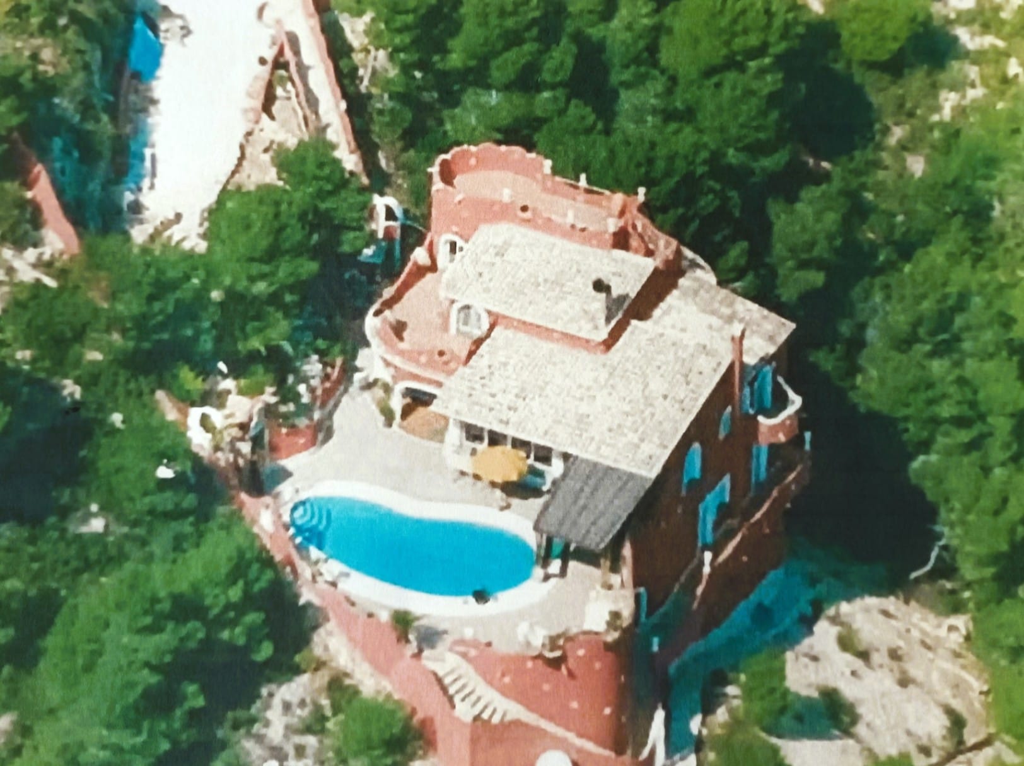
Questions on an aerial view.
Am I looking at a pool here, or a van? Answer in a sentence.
Of the two, only a pool appears.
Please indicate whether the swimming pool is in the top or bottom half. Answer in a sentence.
The swimming pool is in the bottom half of the image.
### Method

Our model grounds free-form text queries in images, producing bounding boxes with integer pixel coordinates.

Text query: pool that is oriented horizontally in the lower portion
[280,481,557,615]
